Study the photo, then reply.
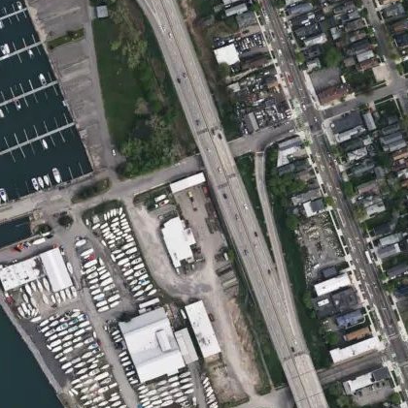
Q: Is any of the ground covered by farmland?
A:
No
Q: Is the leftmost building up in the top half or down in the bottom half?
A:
bottom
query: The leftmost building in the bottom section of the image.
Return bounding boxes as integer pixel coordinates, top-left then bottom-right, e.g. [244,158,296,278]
[0,259,45,291]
